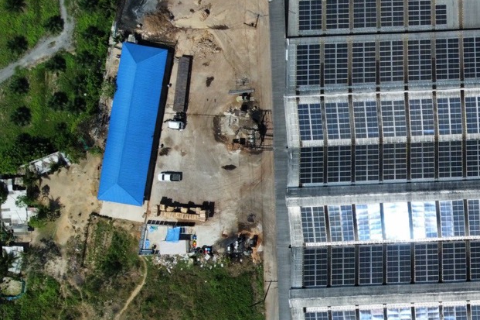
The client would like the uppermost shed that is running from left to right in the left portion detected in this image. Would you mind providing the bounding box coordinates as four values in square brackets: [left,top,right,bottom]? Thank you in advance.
[21,152,77,174]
